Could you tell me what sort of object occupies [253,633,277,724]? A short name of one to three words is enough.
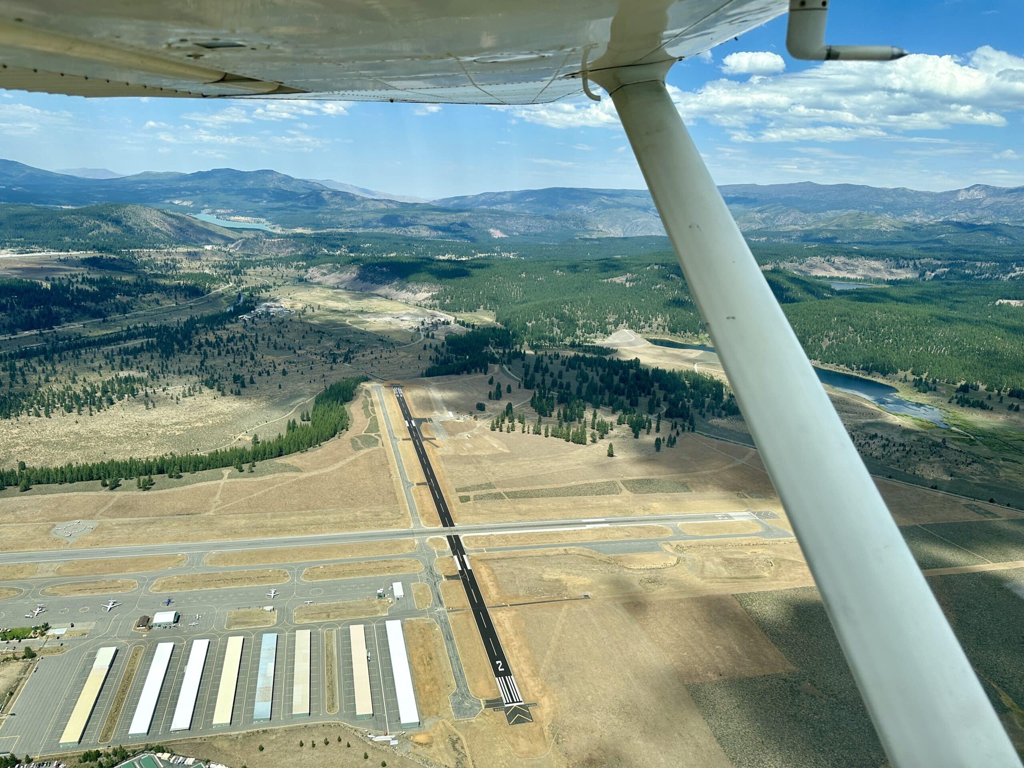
hangar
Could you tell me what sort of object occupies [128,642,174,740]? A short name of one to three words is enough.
hangar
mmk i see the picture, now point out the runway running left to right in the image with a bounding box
[0,511,759,564]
